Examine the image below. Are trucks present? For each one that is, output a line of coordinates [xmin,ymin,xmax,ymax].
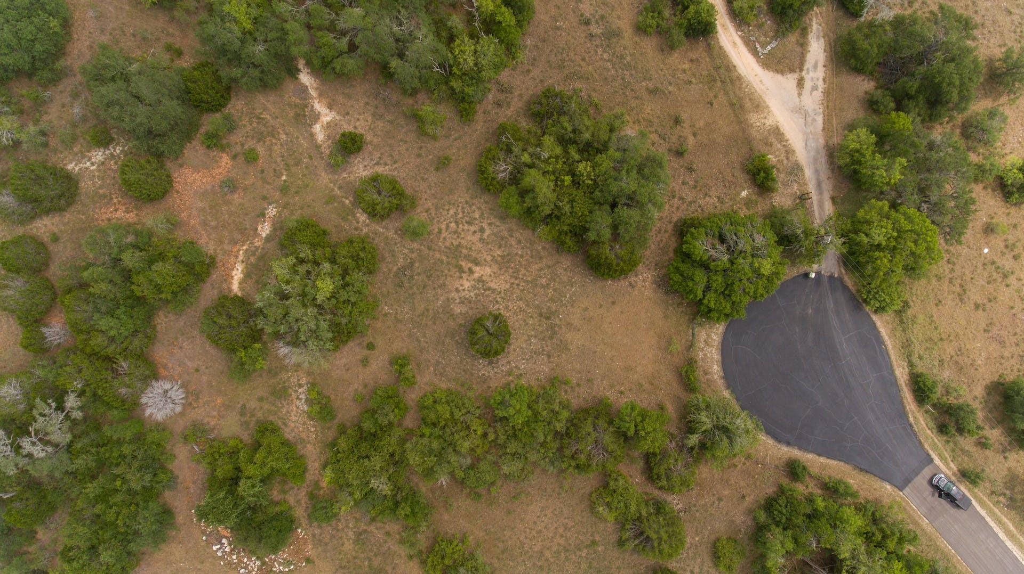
[930,473,975,513]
